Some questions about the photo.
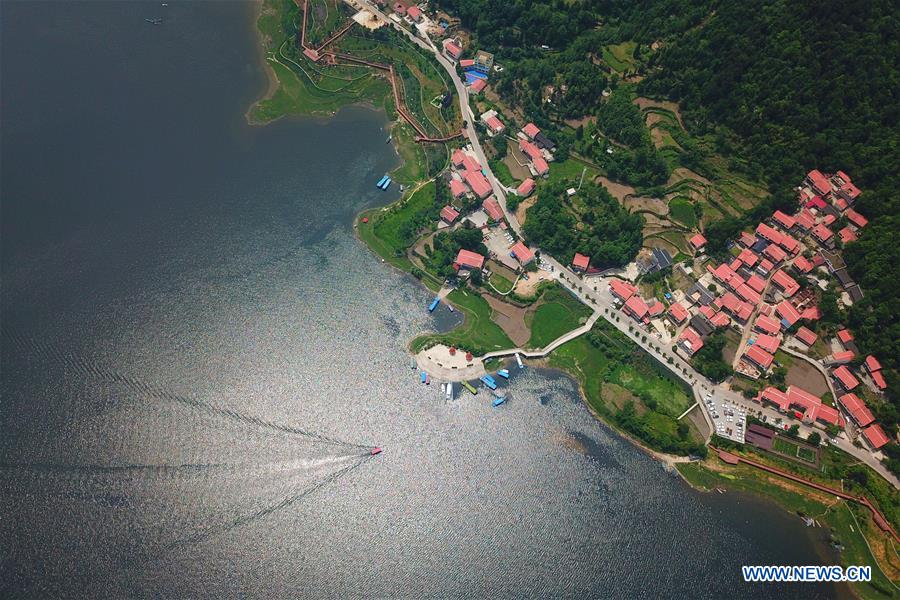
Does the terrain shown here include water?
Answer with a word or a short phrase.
Yes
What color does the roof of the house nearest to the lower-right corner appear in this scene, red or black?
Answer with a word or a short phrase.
red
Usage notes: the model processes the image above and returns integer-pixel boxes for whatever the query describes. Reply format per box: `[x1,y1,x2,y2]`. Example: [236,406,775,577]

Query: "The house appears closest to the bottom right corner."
[859,423,893,451]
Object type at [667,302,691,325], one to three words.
house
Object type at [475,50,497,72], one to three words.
house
